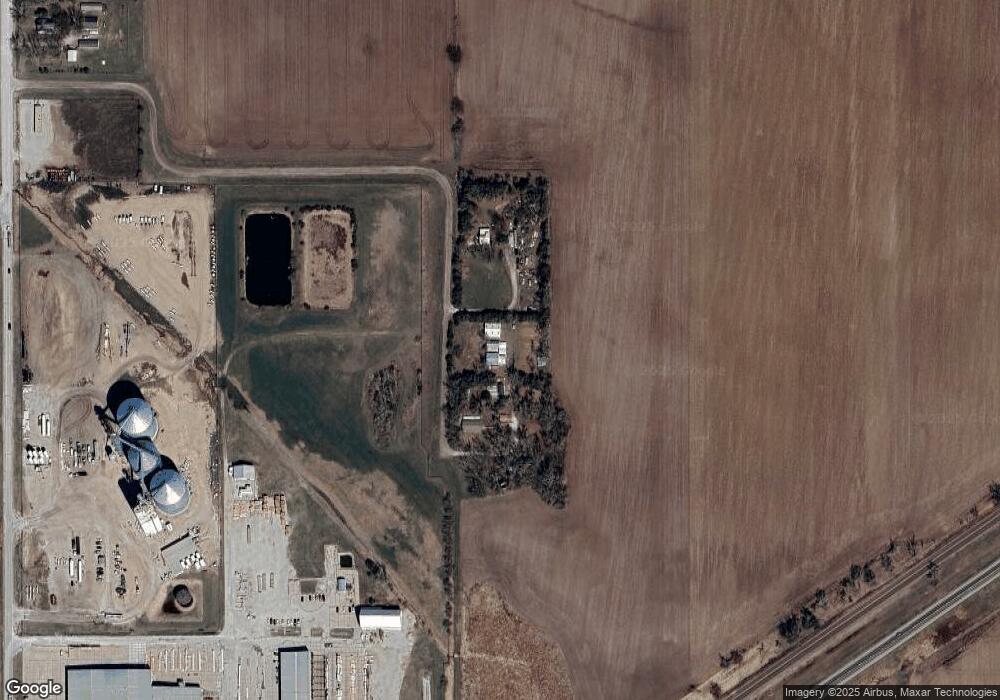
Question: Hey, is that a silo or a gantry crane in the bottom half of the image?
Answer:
silo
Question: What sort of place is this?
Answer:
farmland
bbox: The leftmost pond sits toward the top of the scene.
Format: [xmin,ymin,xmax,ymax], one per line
[246,214,291,306]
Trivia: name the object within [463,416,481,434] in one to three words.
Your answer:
barn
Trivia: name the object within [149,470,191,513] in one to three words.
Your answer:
silo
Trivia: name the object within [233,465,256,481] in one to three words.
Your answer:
building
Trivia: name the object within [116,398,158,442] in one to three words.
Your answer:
silo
